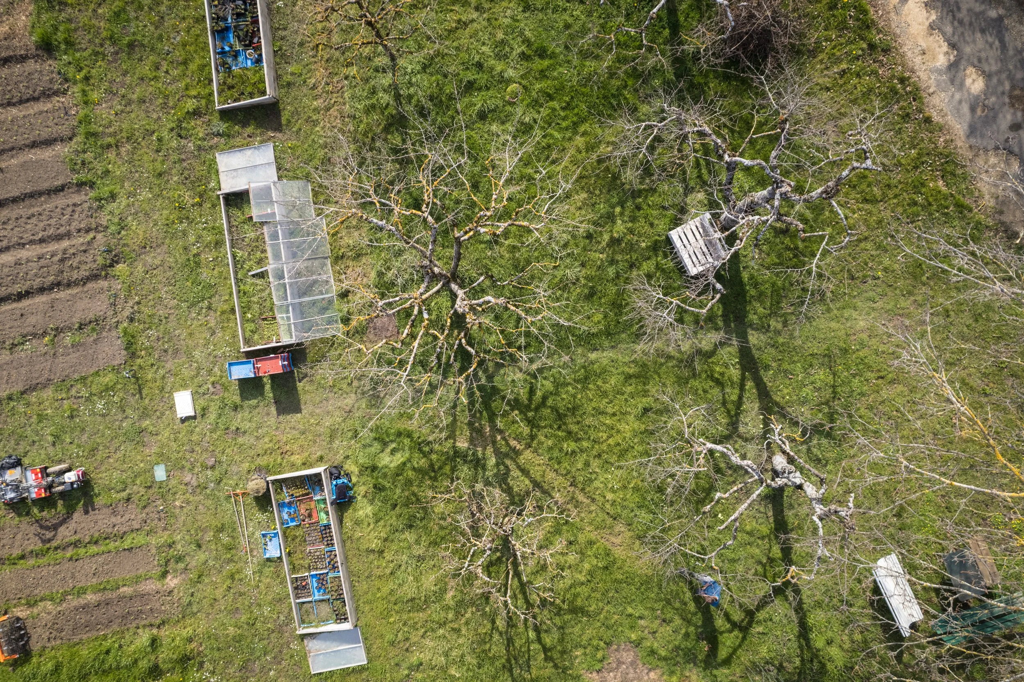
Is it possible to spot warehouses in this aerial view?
No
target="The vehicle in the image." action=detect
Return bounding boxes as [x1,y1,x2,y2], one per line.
[0,463,89,503]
